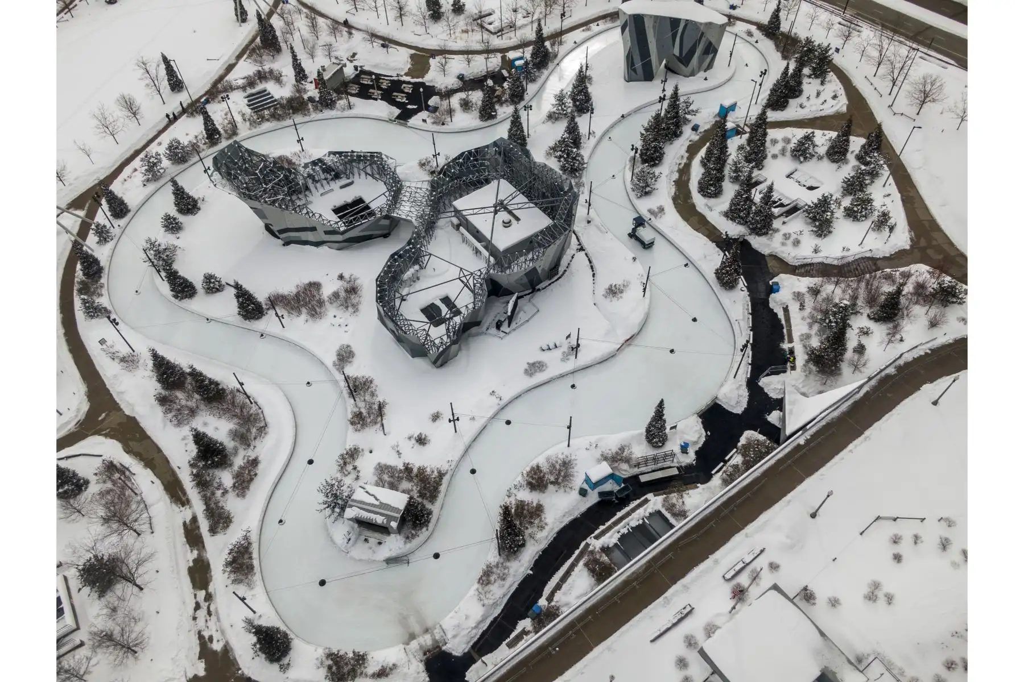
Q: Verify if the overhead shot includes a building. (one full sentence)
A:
Yes, the photo shows a building.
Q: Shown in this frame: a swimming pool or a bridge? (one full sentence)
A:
I can see a bridge in this picture.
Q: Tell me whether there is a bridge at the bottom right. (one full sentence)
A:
No, no bridge can be made out at the bottom right.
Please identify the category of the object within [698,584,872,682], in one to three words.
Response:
building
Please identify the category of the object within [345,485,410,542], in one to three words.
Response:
shed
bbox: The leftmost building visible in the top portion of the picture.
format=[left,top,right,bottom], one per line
[319,60,348,89]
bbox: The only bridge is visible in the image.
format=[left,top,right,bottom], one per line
[388,180,429,219]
